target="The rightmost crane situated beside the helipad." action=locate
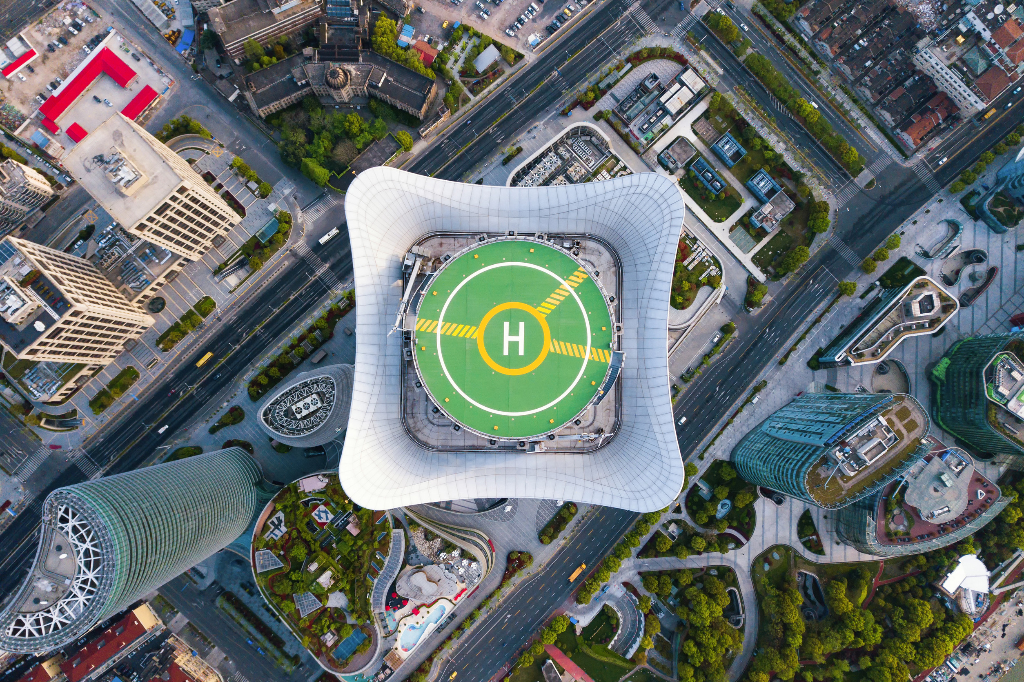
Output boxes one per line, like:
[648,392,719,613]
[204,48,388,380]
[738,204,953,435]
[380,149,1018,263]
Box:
[526,428,613,450]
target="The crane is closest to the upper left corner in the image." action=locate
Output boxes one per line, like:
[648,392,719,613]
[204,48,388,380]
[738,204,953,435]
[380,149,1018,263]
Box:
[387,246,434,337]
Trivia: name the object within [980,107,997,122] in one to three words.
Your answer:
vehicle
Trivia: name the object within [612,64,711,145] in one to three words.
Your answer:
building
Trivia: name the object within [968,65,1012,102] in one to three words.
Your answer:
house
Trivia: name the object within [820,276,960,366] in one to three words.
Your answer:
building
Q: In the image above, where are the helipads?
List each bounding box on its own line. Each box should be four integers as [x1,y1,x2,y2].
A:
[414,240,613,437]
